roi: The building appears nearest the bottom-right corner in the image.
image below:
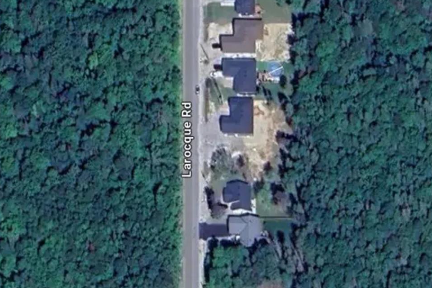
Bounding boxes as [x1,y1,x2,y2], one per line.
[229,214,262,246]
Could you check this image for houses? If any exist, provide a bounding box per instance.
[221,98,253,135]
[222,59,256,94]
[221,180,251,210]
[229,214,262,246]
[222,20,262,54]
[235,0,255,16]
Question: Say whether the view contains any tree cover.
Yes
